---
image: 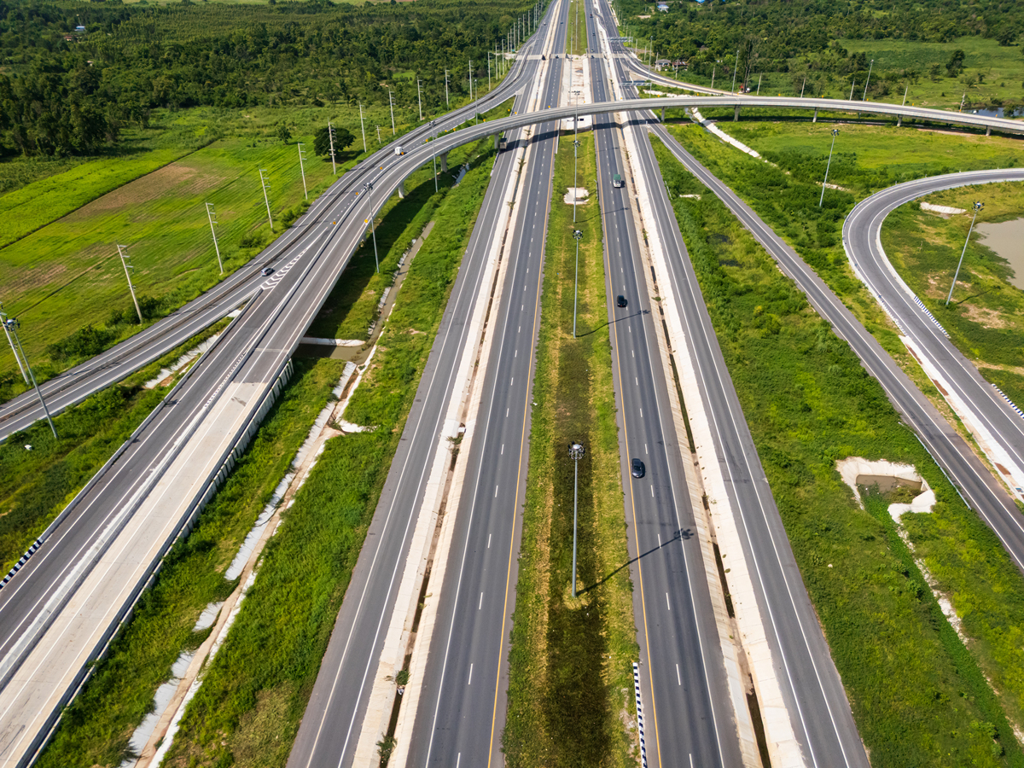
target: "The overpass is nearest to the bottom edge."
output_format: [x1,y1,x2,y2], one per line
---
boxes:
[224,96,1024,388]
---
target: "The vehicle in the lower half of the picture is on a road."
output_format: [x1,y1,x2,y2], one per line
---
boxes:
[633,456,646,475]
